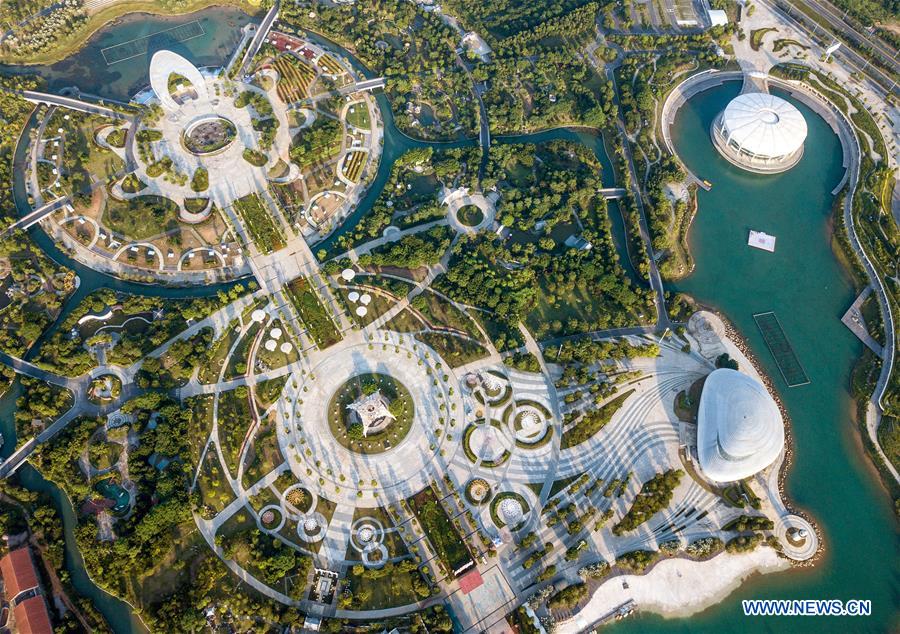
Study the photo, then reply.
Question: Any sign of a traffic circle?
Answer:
Yes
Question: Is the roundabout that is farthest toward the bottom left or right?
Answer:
left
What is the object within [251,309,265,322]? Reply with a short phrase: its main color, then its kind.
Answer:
white umbrella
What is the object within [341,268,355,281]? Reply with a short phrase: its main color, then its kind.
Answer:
white umbrella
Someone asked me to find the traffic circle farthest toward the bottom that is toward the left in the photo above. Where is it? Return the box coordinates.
[77,364,132,414]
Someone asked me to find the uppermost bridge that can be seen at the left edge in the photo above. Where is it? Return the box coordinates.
[18,89,116,118]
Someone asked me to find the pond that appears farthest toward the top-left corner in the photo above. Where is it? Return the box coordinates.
[0,0,297,107]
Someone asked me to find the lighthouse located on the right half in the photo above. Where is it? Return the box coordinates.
[786,528,808,550]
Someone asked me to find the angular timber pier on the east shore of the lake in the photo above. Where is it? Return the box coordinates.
[841,285,886,359]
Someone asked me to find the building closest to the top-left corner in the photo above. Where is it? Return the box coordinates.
[150,50,207,111]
